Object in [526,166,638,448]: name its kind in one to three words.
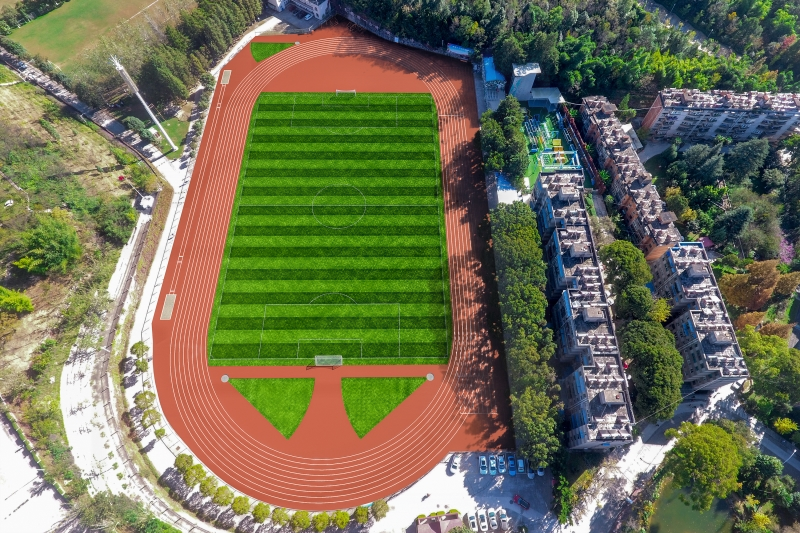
building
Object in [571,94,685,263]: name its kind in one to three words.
building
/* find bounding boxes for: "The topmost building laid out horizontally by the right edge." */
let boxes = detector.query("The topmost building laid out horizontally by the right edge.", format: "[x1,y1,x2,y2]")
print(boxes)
[637,90,800,148]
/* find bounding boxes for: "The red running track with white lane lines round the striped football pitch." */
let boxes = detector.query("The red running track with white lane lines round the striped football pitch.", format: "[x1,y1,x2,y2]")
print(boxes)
[152,14,516,510]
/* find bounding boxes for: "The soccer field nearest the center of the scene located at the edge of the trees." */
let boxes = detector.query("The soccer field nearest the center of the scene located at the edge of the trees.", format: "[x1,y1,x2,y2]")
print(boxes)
[209,93,452,365]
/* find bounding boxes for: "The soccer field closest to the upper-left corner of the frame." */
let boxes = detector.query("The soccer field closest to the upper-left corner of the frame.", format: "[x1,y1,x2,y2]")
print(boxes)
[15,0,208,84]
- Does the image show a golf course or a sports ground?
sports ground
